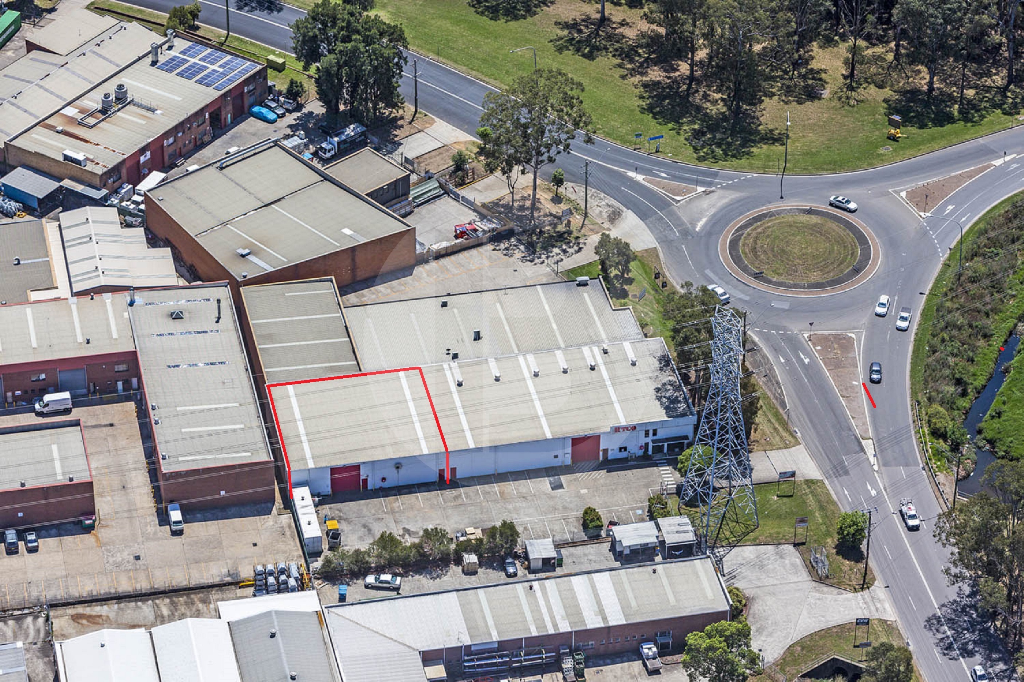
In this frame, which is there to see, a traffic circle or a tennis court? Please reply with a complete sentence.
This aerial view contains a traffic circle.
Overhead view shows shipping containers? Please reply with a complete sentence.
Yes, you can see a shipping container in this photo.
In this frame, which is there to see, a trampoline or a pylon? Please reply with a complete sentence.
The one in the frame is a pylon.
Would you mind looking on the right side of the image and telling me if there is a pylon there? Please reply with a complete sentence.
Yes, a pylon shows up on the right side of the image.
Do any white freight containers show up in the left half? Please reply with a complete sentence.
Yes, a white freight container shows up in the left half.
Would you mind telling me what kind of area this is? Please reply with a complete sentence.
This looks like an industrial area.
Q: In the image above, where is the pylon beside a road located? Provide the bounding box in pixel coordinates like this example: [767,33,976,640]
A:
[672,305,769,552]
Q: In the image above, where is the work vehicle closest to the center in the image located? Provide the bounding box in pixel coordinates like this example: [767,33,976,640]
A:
[455,222,473,238]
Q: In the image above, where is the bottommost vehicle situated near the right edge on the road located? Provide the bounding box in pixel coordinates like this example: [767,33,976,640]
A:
[970,662,990,682]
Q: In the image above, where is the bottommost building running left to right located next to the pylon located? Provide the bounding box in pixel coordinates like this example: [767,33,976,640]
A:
[323,552,733,675]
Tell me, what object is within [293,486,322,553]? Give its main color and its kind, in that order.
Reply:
white shipping container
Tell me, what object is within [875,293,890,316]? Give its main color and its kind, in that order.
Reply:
white car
